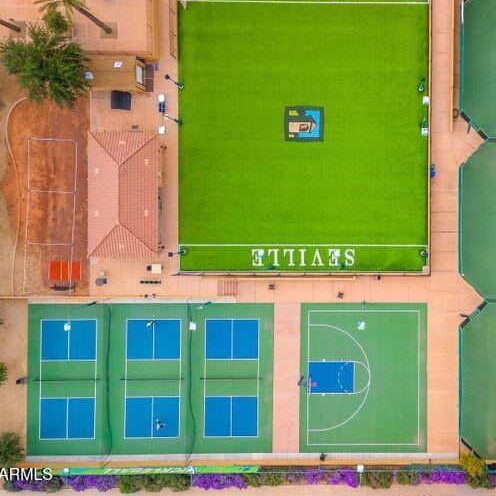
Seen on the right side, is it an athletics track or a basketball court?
basketball court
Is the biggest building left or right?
left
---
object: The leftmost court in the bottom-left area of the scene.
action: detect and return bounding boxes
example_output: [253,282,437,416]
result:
[28,304,108,455]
